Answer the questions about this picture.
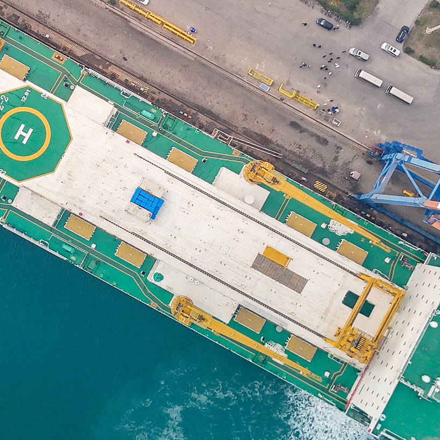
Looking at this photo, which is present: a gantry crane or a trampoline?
gantry crane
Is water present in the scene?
Yes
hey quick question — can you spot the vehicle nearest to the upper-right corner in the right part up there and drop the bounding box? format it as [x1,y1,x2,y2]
[396,24,411,43]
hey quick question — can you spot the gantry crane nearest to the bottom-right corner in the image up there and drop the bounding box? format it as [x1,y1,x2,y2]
[325,274,408,361]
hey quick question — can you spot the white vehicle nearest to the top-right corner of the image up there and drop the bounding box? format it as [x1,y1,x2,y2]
[381,42,402,56]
